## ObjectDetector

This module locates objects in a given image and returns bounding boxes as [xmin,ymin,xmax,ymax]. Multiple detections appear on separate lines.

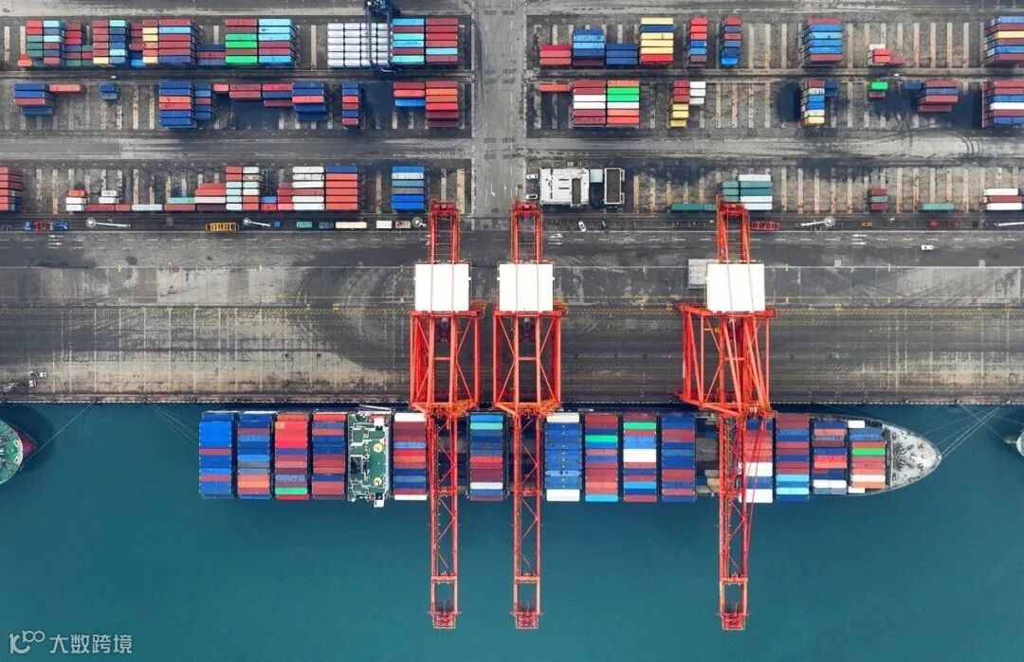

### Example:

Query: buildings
[603,168,624,205]
[540,162,589,204]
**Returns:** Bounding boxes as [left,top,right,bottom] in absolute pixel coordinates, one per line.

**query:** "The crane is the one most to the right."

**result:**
[673,198,773,628]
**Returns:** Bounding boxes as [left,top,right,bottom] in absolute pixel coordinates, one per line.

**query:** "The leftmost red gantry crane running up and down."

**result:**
[410,198,490,628]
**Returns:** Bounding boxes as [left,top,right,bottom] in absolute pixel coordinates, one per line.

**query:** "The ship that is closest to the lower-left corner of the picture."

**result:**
[0,419,42,483]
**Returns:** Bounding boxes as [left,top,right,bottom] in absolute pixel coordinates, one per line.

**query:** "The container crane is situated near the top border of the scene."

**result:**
[366,0,402,78]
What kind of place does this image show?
port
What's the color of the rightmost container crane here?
red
